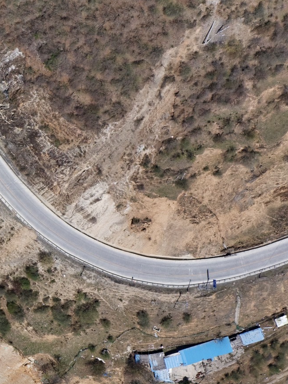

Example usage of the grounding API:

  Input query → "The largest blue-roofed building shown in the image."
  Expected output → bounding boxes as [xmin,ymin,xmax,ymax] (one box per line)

[174,337,233,366]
